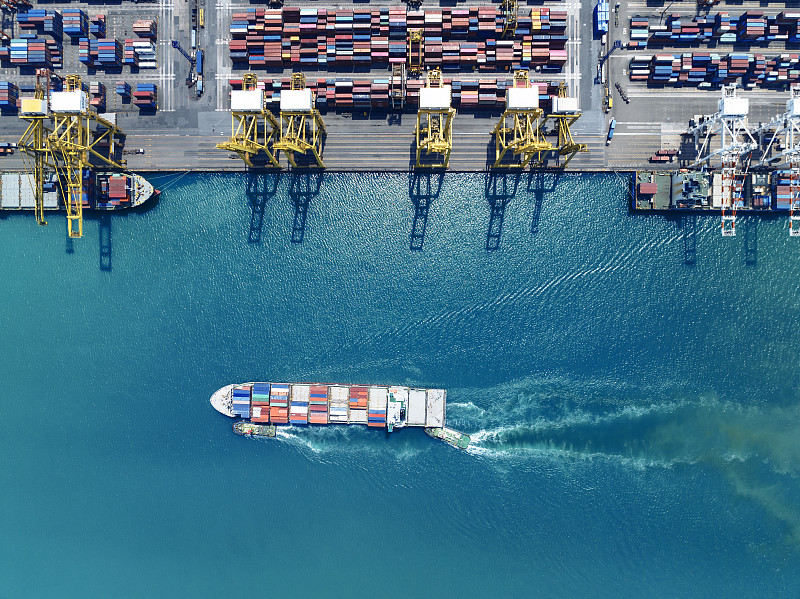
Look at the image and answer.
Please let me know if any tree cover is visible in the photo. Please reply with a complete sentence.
No, the scene doesn't show any tree cover.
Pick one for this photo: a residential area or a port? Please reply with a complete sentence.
This image shows a port.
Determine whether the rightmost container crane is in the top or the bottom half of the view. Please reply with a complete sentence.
The rightmost container crane sits in the top half of the picture.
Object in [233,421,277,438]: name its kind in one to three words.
boat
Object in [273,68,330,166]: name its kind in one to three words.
container crane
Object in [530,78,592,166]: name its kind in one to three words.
container crane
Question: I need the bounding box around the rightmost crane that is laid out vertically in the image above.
[742,71,800,240]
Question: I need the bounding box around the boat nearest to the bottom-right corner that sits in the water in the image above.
[424,426,472,449]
